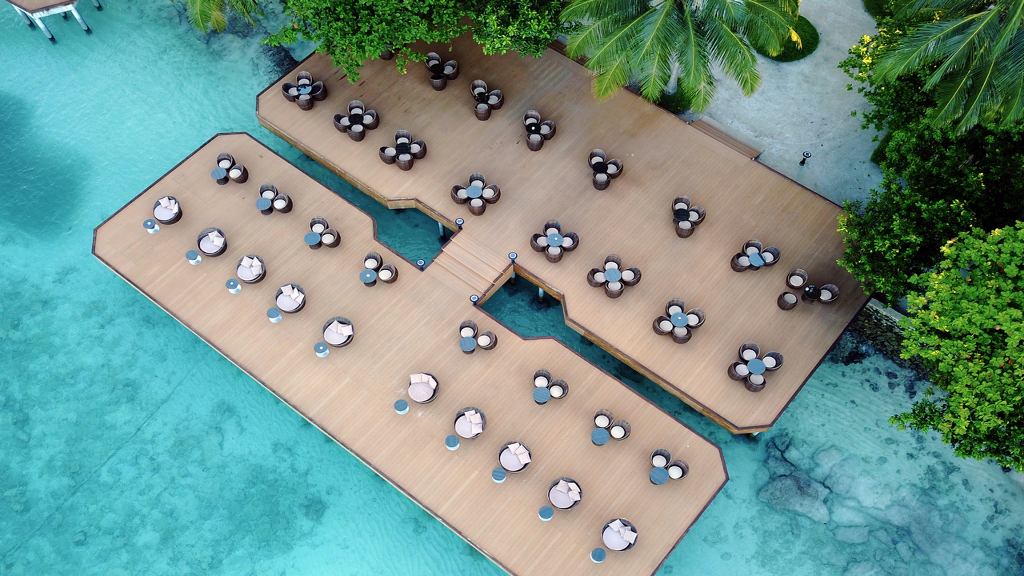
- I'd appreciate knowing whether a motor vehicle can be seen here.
No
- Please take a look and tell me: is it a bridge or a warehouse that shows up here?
bridge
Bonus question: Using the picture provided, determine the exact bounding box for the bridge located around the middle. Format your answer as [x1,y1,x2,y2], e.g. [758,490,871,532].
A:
[421,228,512,307]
